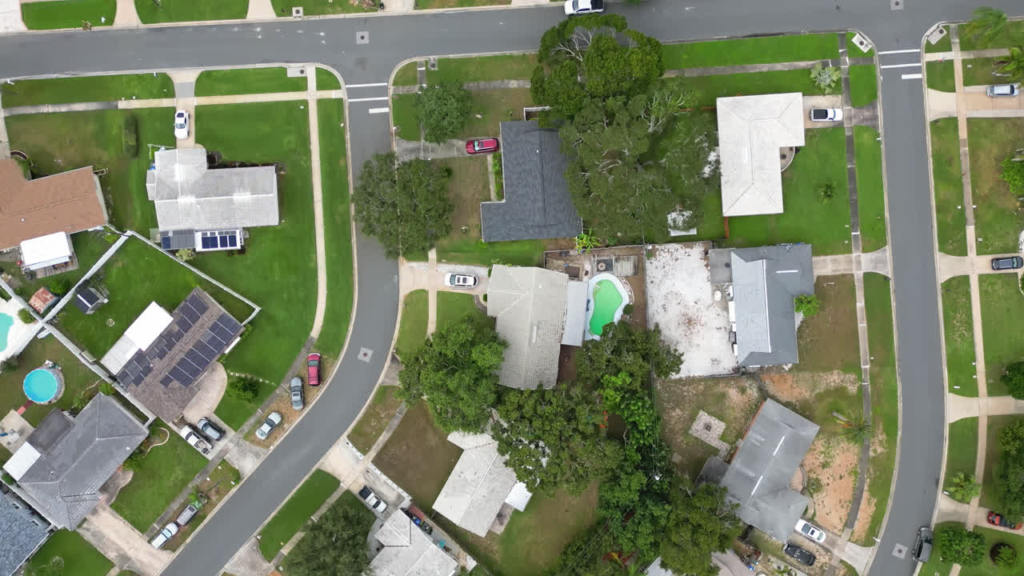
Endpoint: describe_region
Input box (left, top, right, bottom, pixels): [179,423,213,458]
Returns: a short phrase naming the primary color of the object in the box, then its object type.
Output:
white truck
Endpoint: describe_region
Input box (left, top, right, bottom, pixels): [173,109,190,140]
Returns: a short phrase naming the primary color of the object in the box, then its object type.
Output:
white car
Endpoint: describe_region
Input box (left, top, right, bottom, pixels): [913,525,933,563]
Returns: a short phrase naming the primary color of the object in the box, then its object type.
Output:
gray car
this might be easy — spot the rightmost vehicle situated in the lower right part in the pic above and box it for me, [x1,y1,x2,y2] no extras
[984,511,1021,530]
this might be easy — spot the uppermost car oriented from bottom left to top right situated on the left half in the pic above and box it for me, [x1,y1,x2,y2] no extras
[255,411,282,440]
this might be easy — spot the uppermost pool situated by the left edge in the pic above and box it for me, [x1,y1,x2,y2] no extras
[0,297,41,360]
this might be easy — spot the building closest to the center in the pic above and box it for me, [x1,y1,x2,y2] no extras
[487,265,588,390]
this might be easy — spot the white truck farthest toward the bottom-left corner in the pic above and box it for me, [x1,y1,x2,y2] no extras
[147,521,180,552]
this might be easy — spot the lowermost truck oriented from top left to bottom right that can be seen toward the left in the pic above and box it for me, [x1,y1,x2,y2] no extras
[356,483,388,516]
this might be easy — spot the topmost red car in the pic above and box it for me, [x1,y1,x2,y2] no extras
[466,137,499,153]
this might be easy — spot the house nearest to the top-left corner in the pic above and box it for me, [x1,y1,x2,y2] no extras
[0,158,113,270]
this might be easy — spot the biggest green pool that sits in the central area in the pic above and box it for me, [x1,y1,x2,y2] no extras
[582,272,629,344]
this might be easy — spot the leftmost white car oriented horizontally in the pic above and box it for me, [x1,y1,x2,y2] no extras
[446,273,478,288]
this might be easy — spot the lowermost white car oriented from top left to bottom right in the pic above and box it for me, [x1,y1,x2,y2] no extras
[795,518,828,544]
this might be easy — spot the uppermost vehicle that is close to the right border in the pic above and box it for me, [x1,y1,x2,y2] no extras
[985,82,1018,98]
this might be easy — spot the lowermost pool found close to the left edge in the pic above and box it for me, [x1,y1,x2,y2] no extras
[22,363,67,406]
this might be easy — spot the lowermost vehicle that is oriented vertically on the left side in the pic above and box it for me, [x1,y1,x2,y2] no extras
[288,377,305,410]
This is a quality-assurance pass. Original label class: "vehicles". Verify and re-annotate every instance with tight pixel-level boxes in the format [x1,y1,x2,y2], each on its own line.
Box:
[197,416,224,444]
[173,109,190,140]
[255,411,282,440]
[179,423,213,458]
[288,377,305,410]
[174,503,200,527]
[991,254,1024,269]
[356,483,388,516]
[808,106,844,122]
[147,521,180,552]
[466,137,499,153]
[795,518,828,544]
[985,82,1018,98]
[984,511,1021,530]
[913,525,933,563]
[305,353,321,386]
[565,0,605,14]
[781,541,817,568]
[446,273,478,288]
